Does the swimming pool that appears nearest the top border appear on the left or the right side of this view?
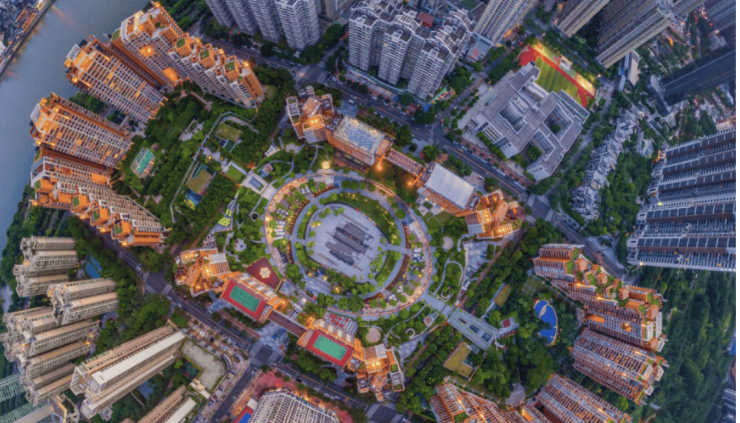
left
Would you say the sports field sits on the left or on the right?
right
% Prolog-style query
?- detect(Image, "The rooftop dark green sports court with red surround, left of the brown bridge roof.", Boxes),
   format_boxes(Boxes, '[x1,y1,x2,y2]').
[223,281,266,317]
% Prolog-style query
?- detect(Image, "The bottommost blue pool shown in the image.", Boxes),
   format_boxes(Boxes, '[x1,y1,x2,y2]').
[139,377,154,399]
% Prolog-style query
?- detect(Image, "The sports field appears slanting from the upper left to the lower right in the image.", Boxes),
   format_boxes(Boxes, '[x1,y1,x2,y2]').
[519,42,599,111]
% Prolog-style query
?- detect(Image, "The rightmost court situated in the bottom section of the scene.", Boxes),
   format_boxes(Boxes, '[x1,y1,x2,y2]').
[309,331,353,366]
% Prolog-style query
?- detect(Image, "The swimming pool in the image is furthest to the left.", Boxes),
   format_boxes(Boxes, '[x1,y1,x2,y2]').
[80,254,108,280]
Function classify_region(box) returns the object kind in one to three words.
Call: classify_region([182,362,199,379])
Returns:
swimming pool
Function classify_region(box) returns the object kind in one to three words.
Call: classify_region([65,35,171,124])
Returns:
building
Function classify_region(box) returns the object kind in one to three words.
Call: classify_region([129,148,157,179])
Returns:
swimming pool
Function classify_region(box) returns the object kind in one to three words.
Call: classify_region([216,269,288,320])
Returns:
building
